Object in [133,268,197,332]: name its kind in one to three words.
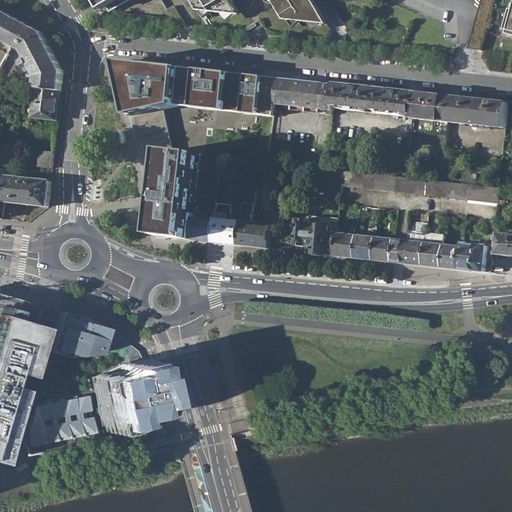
roundabout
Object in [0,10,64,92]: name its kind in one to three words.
building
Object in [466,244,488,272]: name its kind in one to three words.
house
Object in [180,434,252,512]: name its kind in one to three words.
bridge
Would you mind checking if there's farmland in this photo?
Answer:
No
